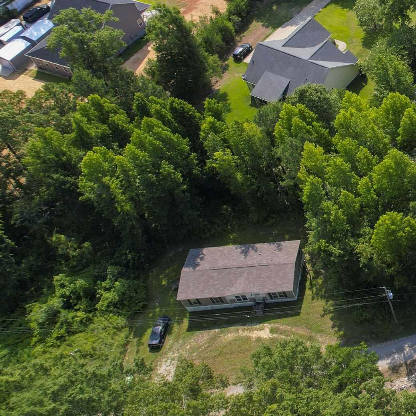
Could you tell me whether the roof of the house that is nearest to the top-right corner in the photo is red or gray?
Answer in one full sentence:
The roof of the house that is nearest to the top-right corner looks gray in the image.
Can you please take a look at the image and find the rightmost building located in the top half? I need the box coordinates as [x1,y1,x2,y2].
[240,17,361,114]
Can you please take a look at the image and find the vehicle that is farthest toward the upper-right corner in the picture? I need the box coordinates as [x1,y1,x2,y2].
[230,43,254,62]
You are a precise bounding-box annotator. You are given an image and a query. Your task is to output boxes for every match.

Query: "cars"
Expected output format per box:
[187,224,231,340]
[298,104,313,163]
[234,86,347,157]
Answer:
[22,5,50,24]
[230,43,254,62]
[149,319,169,350]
